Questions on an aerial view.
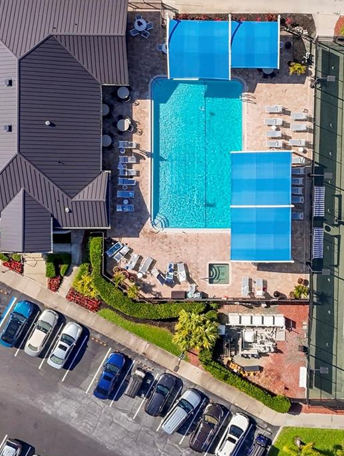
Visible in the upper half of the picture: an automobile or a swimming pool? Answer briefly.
swimming pool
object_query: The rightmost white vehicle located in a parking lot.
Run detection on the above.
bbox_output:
[214,413,251,456]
